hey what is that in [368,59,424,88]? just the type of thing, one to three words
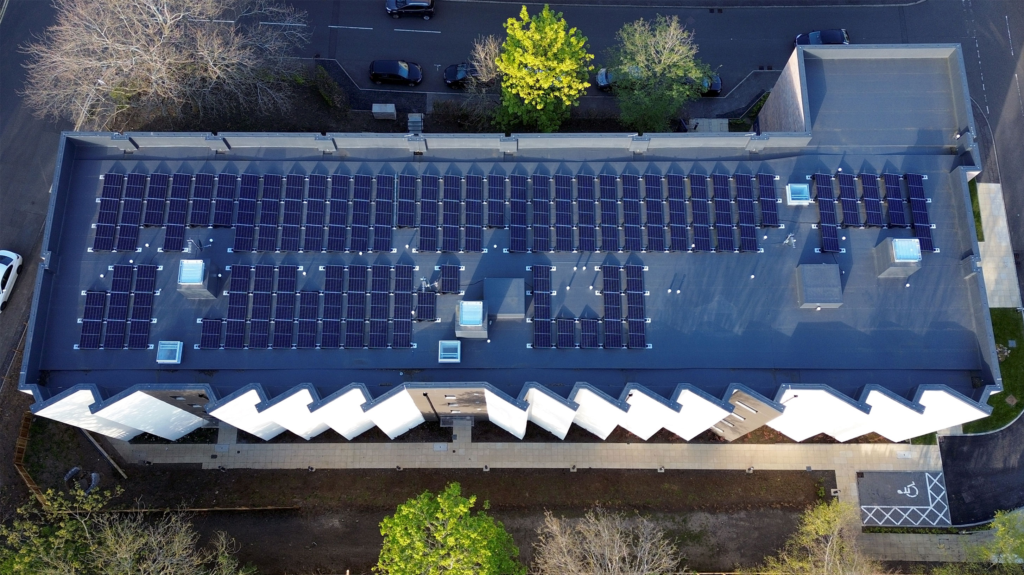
car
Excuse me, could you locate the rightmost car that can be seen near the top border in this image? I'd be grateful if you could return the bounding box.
[791,26,852,50]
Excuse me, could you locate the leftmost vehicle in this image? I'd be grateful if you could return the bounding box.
[0,253,26,308]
